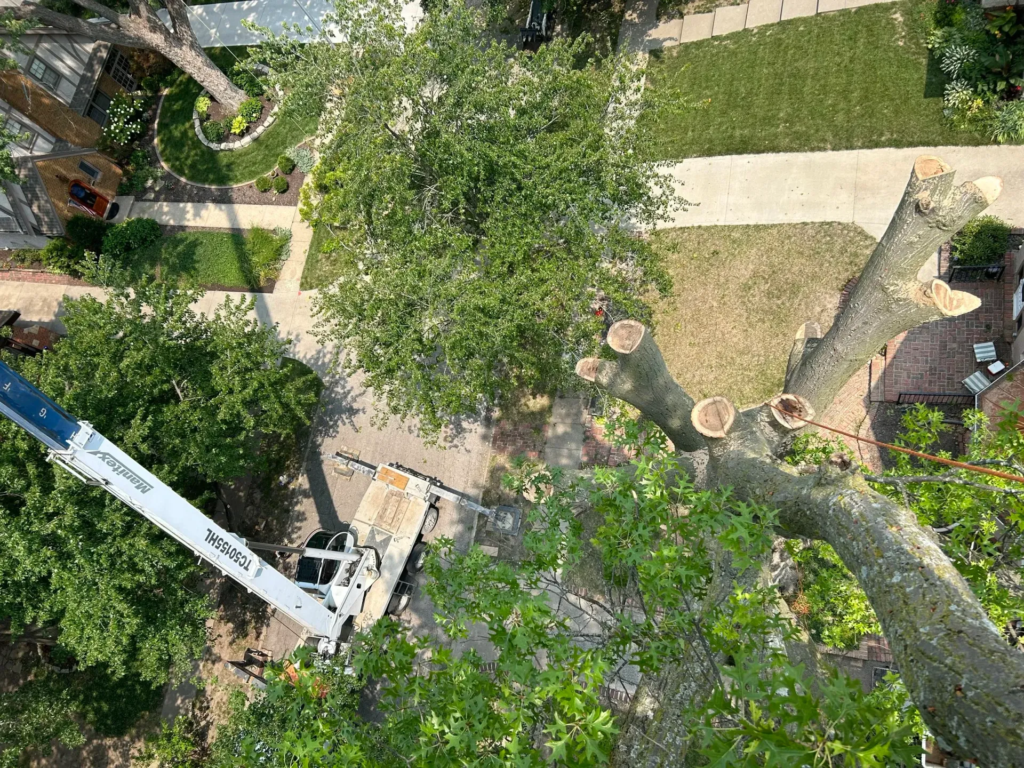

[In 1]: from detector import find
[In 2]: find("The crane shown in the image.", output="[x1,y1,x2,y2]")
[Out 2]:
[0,363,500,759]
